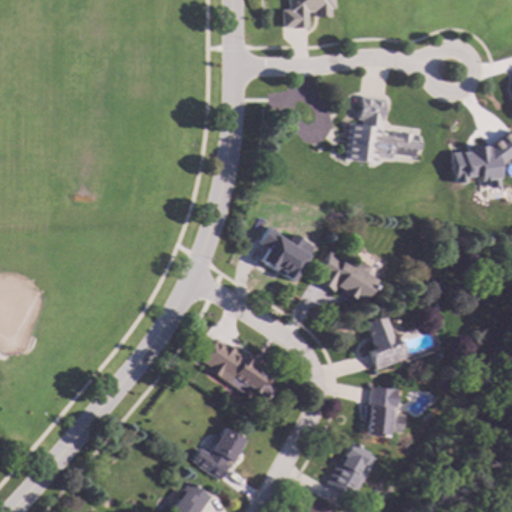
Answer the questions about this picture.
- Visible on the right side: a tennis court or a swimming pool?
swimming pool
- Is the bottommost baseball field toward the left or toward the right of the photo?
left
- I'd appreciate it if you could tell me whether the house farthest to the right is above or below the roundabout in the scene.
below it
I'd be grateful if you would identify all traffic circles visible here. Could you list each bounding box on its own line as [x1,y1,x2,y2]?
[415,42,480,103]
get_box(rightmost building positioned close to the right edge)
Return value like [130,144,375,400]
[450,133,512,186]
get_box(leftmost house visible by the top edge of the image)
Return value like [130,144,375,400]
[283,0,340,29]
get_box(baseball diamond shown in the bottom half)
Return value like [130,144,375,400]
[0,272,42,362]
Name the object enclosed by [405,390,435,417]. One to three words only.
swimming pool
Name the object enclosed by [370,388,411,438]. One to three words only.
house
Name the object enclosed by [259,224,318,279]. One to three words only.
house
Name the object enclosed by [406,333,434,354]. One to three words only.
swimming pool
